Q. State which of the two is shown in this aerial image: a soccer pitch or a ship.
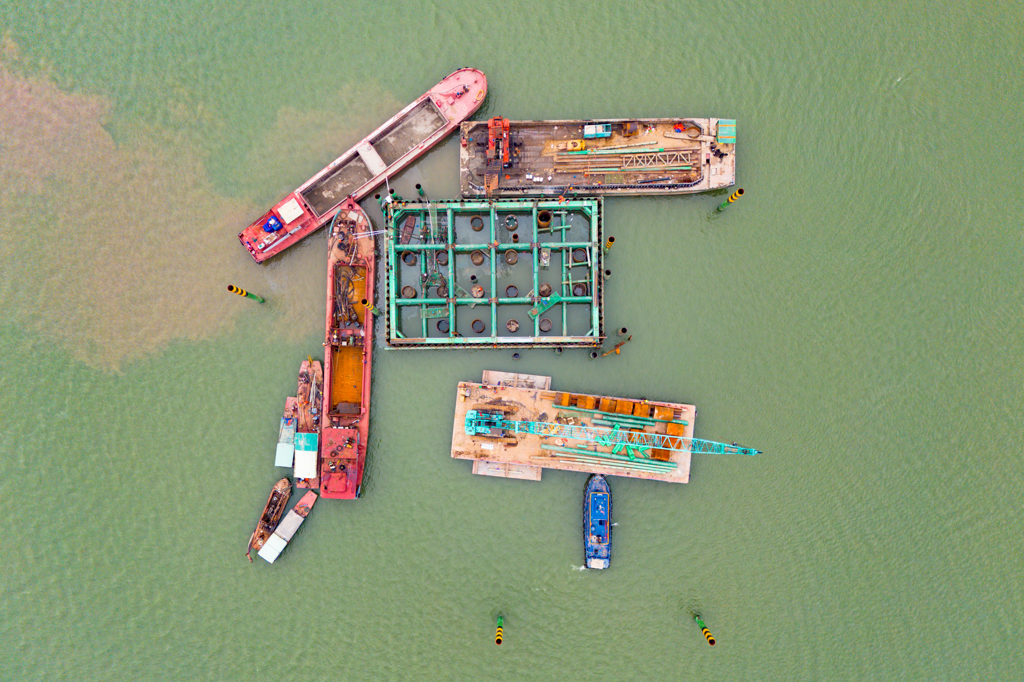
ship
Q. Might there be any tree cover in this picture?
No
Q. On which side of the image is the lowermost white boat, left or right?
left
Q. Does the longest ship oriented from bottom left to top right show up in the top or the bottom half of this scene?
top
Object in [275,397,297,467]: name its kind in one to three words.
boat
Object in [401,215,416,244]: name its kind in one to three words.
boat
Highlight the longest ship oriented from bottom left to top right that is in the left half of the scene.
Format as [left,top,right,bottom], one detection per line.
[238,65,488,266]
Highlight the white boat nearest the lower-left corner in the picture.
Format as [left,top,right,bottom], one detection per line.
[258,491,318,564]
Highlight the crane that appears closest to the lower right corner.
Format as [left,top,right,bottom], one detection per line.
[465,403,763,455]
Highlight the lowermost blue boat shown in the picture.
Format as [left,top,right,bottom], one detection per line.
[583,474,613,569]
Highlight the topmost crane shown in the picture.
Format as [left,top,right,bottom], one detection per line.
[476,116,523,205]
